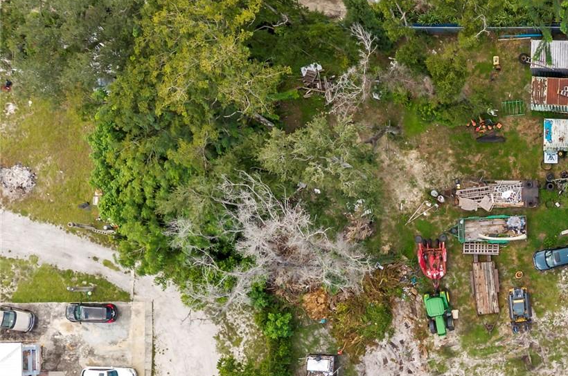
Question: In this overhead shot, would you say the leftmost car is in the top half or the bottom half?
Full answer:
It is in the bottom half that the leftmost car appears.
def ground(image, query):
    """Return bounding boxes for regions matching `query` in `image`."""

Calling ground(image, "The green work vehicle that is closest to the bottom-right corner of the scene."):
[424,297,452,340]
